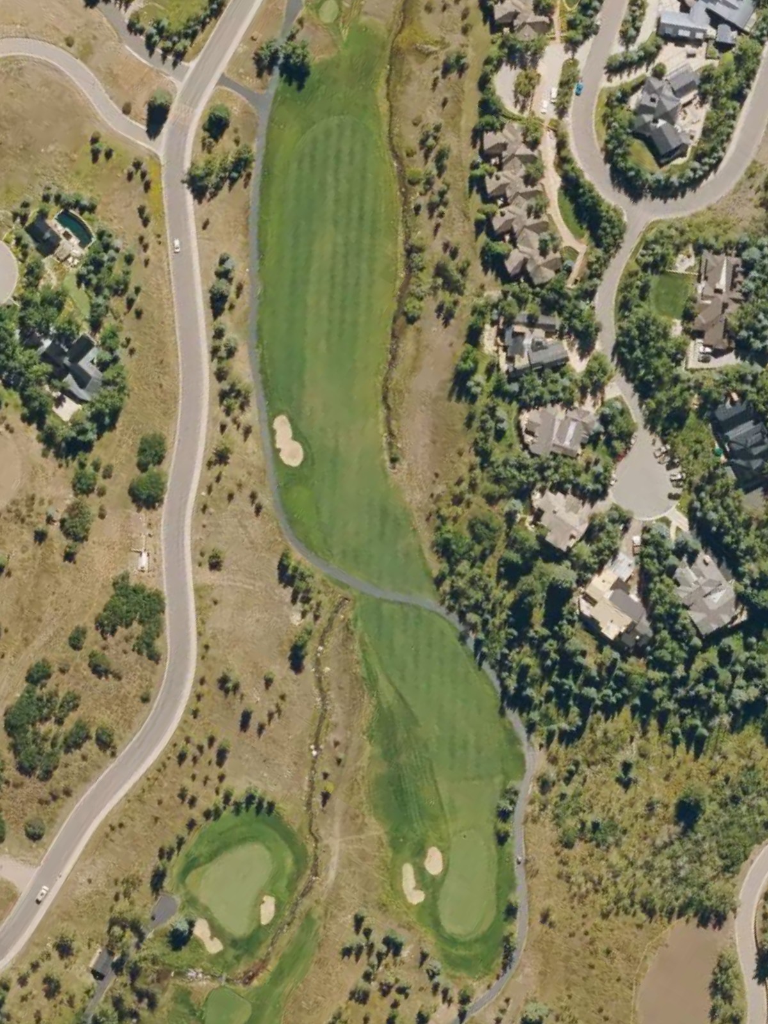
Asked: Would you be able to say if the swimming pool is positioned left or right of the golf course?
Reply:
to the left of it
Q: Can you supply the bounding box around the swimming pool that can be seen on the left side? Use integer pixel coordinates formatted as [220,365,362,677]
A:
[54,209,94,248]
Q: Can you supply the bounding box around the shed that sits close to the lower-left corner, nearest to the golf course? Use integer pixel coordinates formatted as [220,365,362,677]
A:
[90,949,115,978]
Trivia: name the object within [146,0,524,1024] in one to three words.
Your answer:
golf course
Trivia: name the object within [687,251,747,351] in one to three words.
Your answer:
house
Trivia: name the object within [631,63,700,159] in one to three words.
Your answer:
house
